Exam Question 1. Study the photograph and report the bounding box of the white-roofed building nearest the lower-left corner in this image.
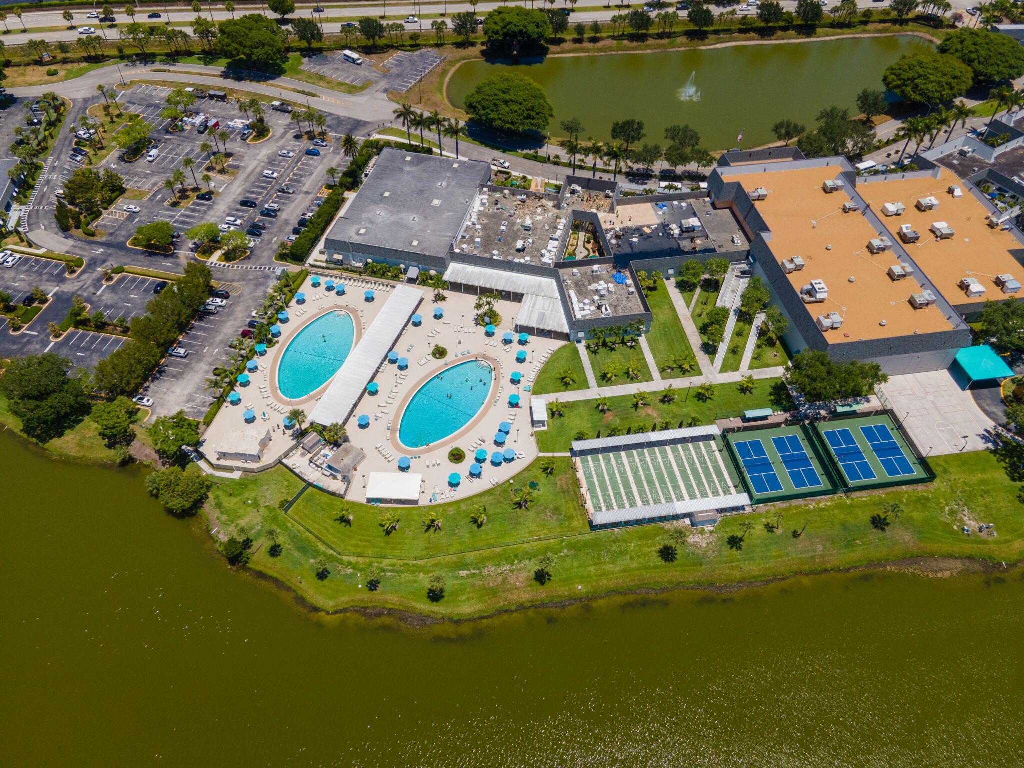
[216,428,270,461]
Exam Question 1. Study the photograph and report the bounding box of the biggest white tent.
[366,473,423,508]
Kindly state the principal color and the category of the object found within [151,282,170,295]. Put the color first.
black vehicle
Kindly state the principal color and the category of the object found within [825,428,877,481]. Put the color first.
blue sports court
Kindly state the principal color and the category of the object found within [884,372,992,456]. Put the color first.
white basketball court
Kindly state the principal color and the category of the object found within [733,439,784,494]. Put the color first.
blue sports court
